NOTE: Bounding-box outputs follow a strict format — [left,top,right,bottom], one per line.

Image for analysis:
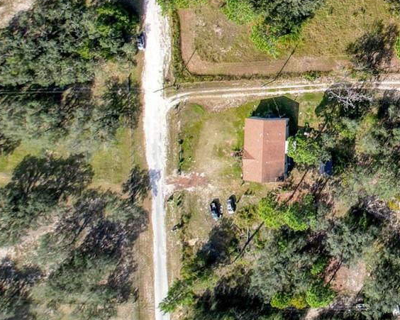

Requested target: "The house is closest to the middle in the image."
[240,116,291,184]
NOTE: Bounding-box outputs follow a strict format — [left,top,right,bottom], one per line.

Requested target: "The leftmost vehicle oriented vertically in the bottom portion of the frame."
[209,199,222,221]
